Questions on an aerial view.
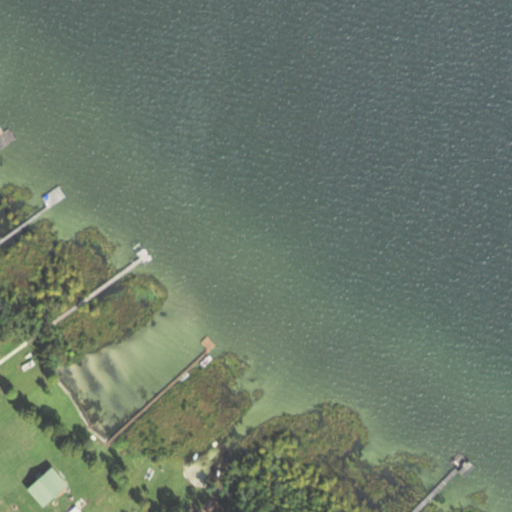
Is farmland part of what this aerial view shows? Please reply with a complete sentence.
No, there's no farmland in this view.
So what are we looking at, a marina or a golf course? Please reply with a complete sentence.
The area seen from above is a marina.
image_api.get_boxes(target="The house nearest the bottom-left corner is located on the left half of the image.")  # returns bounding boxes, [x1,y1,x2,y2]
[26,469,68,509]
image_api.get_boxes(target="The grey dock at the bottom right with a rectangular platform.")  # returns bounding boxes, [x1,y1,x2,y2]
[410,461,475,512]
